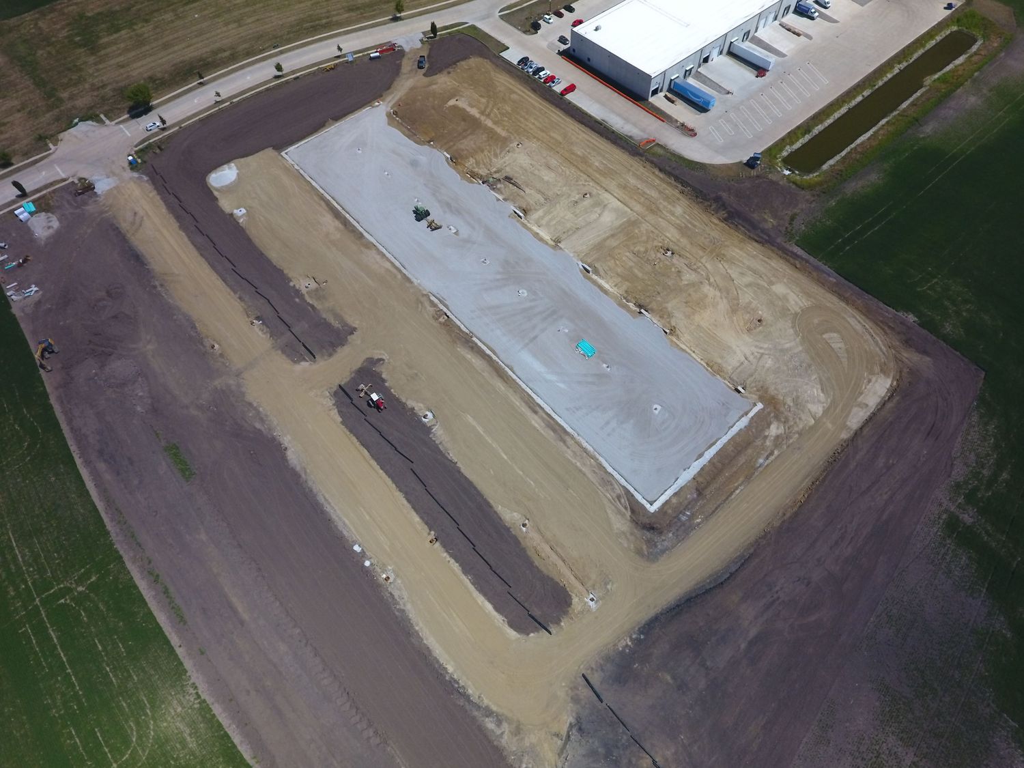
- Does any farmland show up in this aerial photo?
Yes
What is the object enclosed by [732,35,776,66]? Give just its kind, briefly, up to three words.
trailer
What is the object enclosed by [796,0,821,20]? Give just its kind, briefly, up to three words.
vehicle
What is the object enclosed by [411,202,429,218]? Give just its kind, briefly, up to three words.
work vehicle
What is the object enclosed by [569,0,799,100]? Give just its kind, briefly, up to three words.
building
